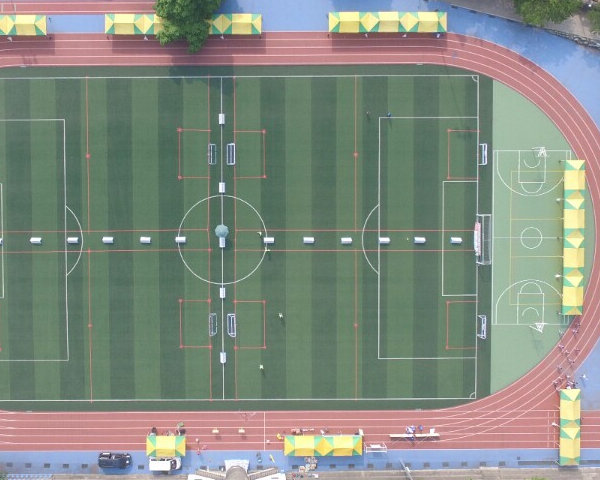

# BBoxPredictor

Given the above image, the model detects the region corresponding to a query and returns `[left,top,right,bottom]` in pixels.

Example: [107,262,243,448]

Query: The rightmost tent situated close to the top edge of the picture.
[405,11,447,36]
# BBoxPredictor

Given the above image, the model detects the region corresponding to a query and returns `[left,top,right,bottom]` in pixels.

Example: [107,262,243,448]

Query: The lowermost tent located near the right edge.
[553,424,579,466]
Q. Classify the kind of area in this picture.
sports ground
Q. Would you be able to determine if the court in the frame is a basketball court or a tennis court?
basketball court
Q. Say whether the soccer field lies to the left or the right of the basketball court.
left of it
